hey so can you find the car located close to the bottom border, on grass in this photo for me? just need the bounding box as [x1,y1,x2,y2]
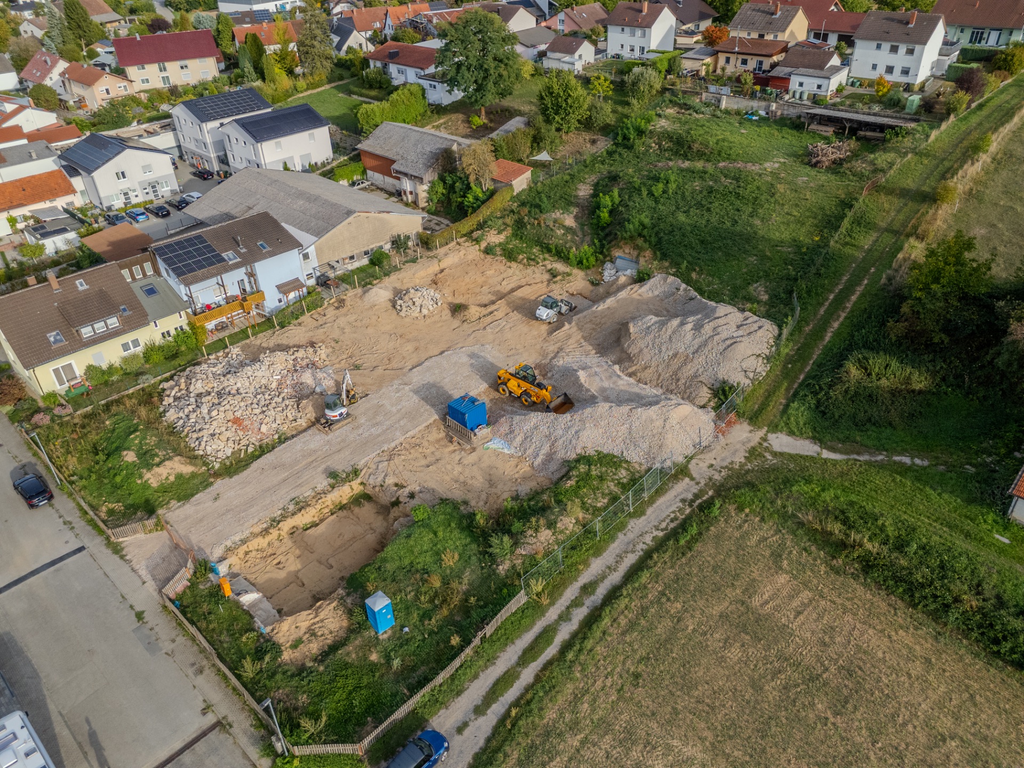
[387,733,453,768]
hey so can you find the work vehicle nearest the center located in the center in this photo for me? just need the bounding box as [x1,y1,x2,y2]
[493,362,571,414]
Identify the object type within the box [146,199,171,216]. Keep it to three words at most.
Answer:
car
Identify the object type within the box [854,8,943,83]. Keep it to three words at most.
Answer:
house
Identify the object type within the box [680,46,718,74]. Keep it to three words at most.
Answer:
shed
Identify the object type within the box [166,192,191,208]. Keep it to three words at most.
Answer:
car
